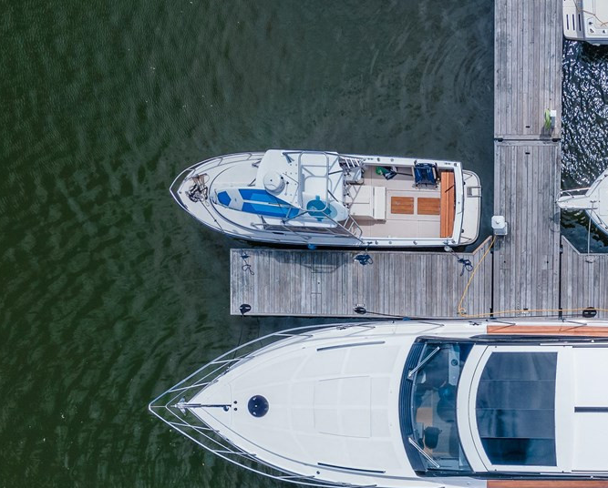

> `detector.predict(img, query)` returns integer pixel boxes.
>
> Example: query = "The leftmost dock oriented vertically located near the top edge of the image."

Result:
[495,0,561,141]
